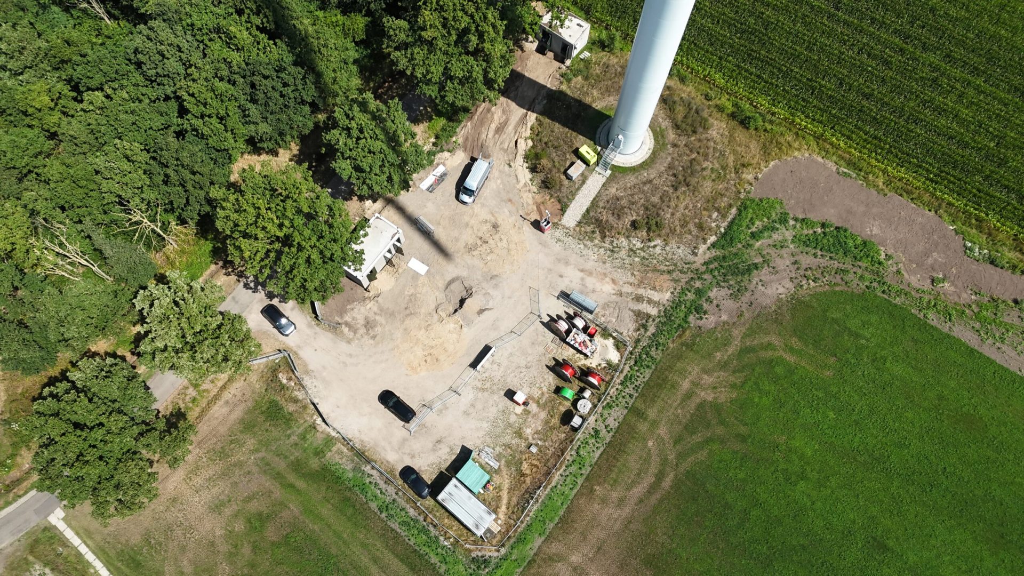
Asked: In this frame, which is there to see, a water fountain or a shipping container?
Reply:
shipping container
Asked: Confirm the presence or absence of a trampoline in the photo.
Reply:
No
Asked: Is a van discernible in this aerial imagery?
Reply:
Yes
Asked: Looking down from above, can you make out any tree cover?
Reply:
Yes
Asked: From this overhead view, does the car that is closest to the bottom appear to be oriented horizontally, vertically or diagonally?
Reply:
diagonally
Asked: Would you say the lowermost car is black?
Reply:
Yes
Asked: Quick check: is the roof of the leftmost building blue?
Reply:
No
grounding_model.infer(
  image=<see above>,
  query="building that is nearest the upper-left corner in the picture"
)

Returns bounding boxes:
[336,215,405,287]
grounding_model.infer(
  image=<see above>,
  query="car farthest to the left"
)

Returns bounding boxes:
[259,303,298,338]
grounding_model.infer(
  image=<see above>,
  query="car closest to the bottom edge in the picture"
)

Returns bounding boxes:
[395,462,434,503]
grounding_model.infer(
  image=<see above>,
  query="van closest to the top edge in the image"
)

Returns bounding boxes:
[458,153,499,205]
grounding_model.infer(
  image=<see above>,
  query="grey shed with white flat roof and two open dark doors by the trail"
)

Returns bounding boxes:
[541,9,593,61]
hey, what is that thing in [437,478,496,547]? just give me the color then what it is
white shipping container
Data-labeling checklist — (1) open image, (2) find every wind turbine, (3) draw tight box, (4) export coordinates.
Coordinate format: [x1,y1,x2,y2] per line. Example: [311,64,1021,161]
[595,0,695,179]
